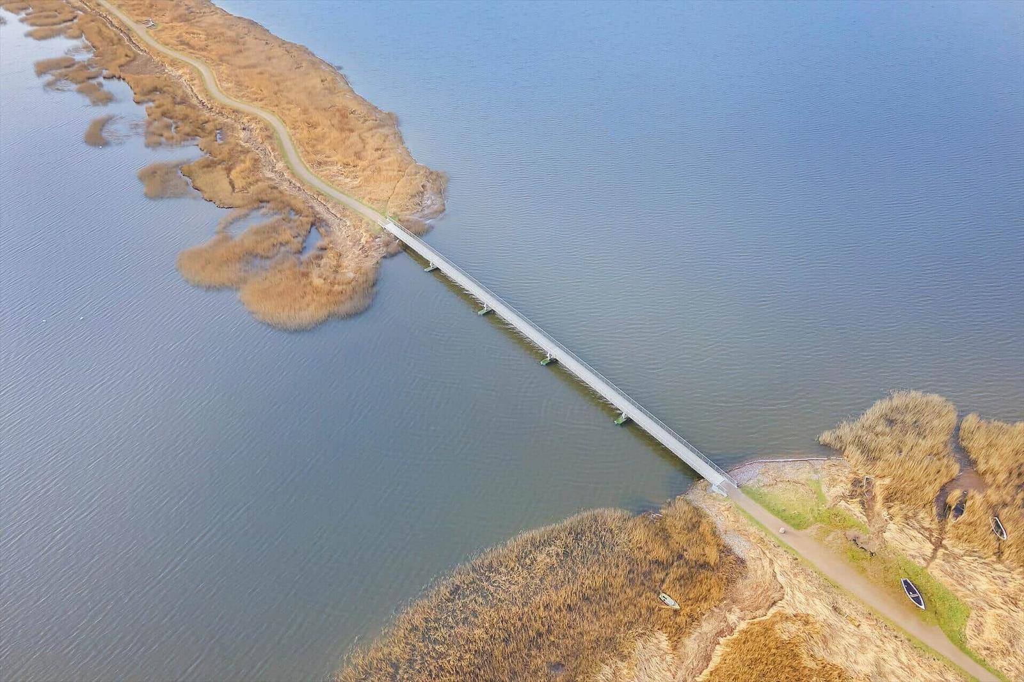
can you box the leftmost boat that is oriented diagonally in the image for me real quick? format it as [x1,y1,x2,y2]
[658,592,681,611]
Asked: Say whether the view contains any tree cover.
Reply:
No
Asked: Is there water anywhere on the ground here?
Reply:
Yes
